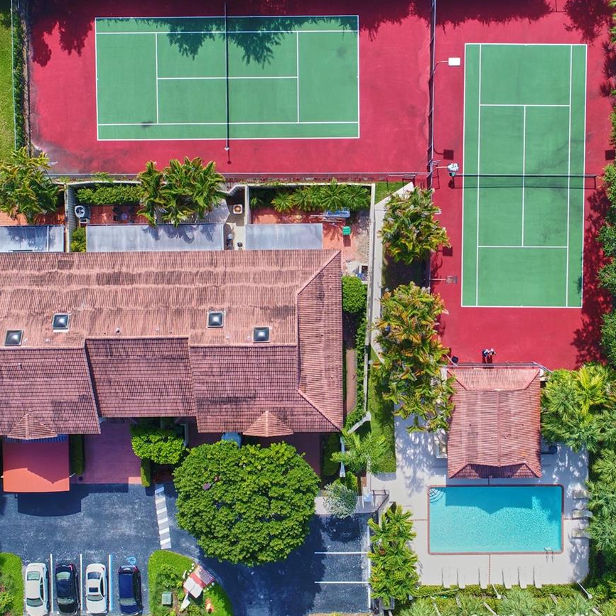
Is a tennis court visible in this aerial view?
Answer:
Yes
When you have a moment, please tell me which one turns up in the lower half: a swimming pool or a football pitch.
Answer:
swimming pool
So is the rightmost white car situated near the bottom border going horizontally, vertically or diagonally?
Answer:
vertically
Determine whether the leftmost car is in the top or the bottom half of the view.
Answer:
bottom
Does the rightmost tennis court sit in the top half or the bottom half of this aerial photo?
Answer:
top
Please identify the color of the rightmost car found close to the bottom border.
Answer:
blue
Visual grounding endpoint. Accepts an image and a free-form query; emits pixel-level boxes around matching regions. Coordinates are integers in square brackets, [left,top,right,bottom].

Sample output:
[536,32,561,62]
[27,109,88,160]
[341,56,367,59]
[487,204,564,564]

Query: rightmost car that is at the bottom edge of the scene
[117,563,142,616]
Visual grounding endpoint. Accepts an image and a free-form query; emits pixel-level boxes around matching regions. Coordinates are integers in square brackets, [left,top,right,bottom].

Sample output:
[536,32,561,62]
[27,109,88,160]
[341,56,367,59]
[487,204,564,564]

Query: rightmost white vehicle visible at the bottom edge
[84,561,110,614]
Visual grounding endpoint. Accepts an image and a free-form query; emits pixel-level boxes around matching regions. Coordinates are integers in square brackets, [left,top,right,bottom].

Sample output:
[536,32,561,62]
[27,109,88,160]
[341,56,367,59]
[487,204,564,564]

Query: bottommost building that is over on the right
[445,367,543,479]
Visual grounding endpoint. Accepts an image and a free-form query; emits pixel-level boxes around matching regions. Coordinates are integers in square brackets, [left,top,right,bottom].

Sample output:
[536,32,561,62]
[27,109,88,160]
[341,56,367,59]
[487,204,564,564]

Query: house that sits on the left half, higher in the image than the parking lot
[0,250,344,438]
